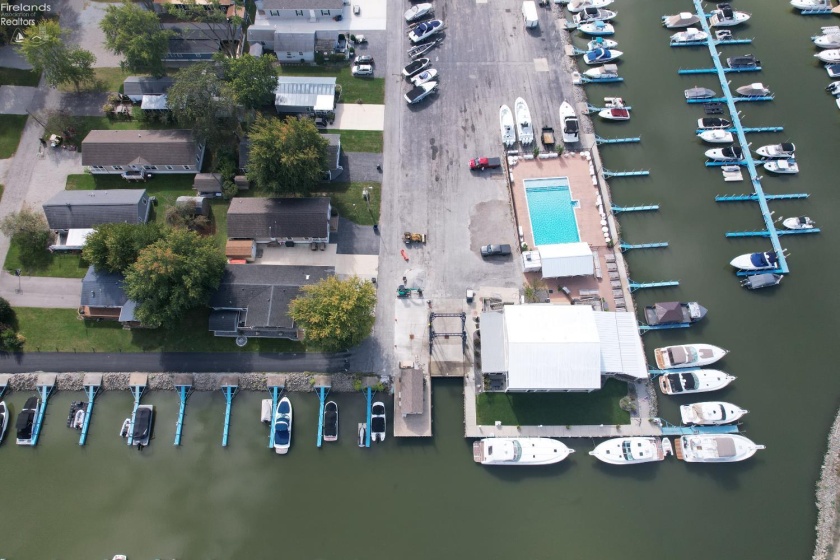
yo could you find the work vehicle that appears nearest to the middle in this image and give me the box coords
[395,285,424,298]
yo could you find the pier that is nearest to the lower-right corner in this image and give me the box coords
[661,421,742,438]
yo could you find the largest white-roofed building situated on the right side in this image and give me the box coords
[477,293,648,398]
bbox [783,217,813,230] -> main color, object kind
white boat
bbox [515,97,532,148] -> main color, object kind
white boat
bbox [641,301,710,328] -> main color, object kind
gray boat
